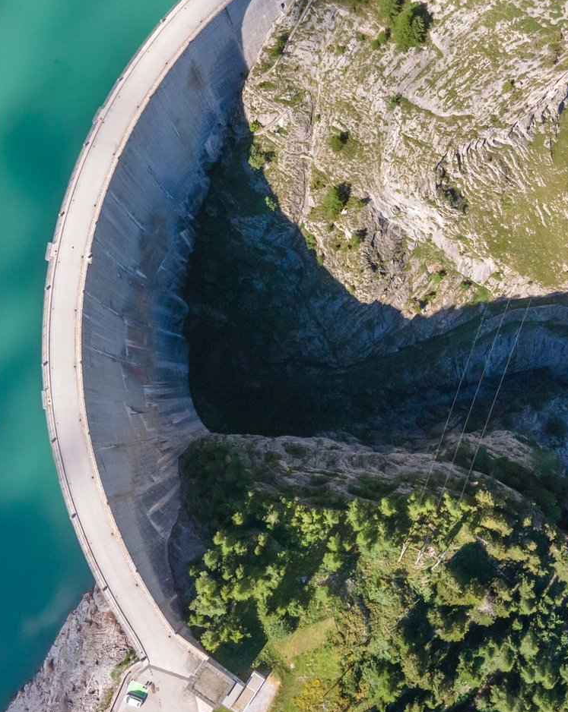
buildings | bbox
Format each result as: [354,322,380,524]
[187,654,236,708]
[229,663,266,712]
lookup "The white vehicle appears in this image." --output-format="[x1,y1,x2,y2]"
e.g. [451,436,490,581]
[122,695,143,712]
